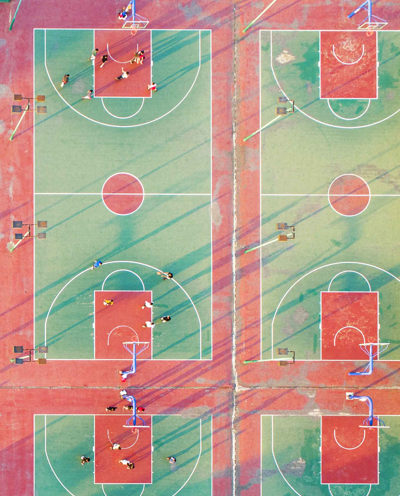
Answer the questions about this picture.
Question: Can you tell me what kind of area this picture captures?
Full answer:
This looks like a sports ground.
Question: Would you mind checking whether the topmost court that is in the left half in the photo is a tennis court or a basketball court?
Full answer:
The topmost court that is in the left half can be classified as a basketball court.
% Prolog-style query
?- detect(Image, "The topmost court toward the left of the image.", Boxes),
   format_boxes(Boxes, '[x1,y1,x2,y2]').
[34,29,211,360]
